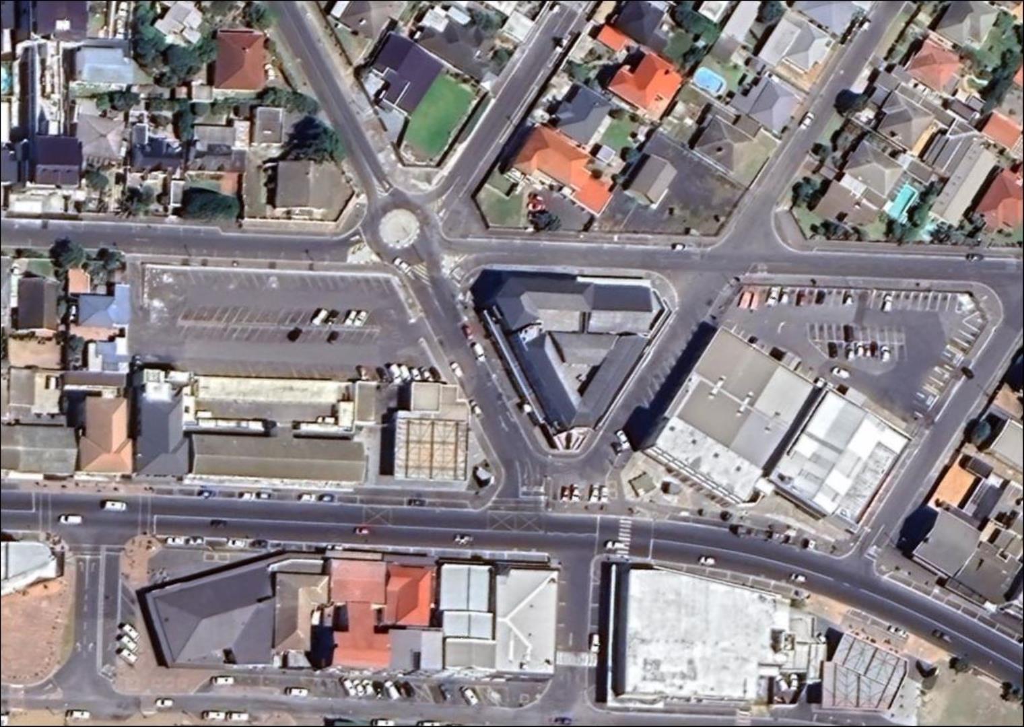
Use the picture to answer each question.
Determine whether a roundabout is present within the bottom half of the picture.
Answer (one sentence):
No, looking within the bottom half of the picture, there is no roundabout.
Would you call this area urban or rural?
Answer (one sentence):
The land in this view is best described as urban.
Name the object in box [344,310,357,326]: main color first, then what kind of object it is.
white vehicle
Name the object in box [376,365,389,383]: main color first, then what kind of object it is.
black vehicle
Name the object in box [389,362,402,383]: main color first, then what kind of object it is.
white vehicle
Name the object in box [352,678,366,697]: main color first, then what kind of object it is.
white car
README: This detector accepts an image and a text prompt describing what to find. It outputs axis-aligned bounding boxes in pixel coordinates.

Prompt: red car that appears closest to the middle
[463,322,475,338]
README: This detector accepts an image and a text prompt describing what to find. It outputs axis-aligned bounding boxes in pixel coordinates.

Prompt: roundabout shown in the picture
[378,207,420,249]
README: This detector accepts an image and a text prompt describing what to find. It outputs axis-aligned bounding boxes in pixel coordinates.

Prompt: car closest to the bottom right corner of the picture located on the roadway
[933,628,952,642]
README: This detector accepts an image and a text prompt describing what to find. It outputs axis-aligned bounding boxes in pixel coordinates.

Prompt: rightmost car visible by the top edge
[859,17,873,34]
